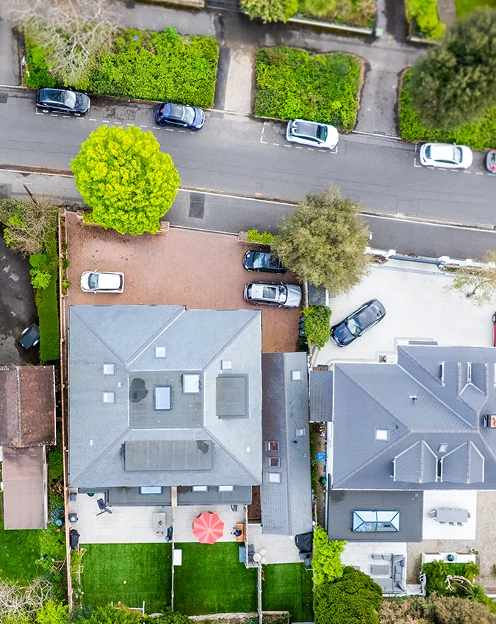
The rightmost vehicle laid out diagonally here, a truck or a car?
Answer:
car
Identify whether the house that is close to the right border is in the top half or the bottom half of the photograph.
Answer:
bottom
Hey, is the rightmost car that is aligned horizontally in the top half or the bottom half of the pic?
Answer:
top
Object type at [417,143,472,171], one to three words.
car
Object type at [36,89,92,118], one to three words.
car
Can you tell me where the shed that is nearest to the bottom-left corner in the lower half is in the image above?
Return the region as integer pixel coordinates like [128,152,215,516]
[2,446,49,530]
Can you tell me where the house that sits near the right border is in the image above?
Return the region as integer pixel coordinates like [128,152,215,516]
[308,341,496,541]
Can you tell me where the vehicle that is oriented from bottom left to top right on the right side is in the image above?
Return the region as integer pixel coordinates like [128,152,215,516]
[331,297,388,346]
